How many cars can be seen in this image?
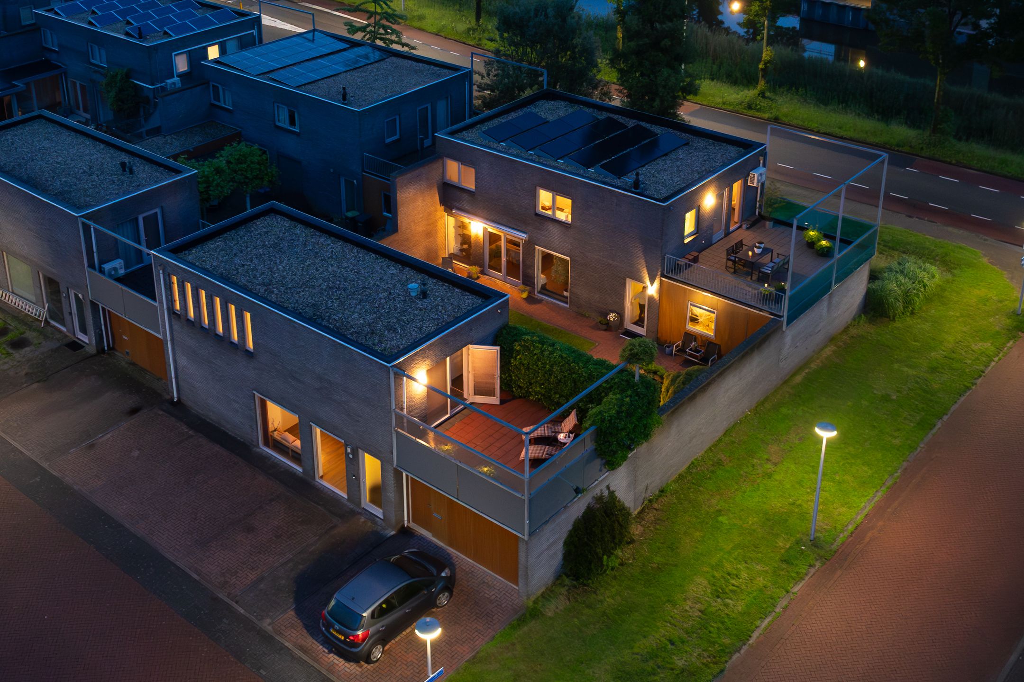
1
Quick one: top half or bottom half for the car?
bottom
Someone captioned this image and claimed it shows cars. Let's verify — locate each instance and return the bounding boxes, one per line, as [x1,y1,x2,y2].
[312,555,451,664]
